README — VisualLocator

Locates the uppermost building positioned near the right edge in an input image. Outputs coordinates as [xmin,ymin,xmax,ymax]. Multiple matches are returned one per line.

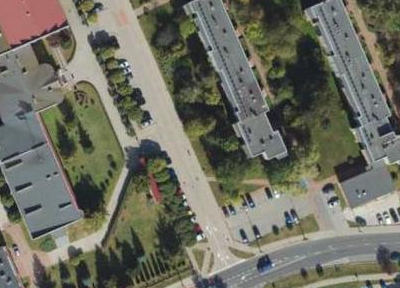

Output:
[303,0,400,167]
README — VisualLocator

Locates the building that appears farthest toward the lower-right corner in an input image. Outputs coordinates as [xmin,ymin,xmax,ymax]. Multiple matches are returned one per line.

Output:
[339,165,395,209]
